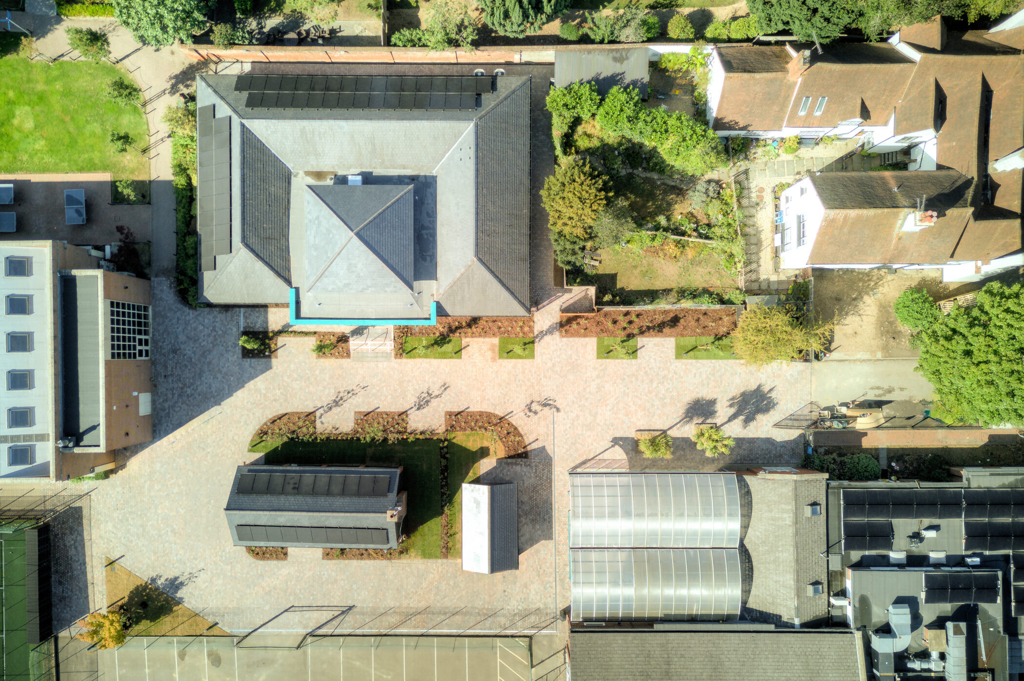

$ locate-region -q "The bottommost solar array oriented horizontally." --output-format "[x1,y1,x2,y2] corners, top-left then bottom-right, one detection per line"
[921,572,999,608]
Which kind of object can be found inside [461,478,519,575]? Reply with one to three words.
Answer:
shed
